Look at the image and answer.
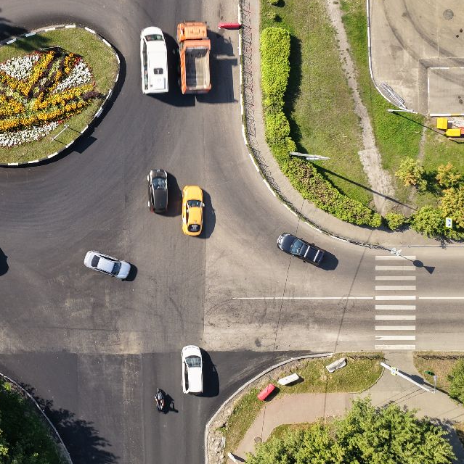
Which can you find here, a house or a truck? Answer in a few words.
truck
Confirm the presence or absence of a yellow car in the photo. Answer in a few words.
Yes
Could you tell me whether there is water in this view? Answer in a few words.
No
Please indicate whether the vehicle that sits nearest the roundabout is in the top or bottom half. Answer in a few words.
top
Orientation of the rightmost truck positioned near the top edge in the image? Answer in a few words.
vertically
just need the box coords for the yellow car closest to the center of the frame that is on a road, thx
[179,185,206,235]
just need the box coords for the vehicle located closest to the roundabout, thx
[138,29,169,93]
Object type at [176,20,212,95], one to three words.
truck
